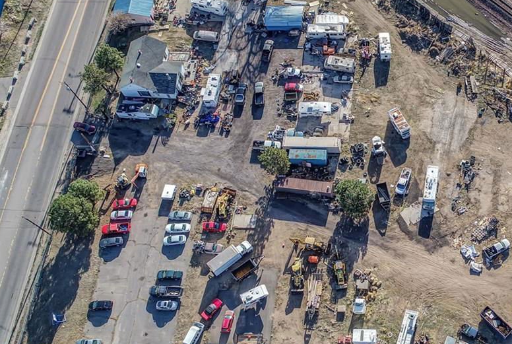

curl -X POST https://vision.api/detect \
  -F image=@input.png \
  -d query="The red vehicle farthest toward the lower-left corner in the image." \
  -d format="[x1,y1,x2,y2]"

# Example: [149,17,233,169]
[101,220,132,234]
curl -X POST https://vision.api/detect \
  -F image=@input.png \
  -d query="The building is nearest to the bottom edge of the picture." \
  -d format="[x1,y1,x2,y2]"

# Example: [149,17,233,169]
[114,37,190,101]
